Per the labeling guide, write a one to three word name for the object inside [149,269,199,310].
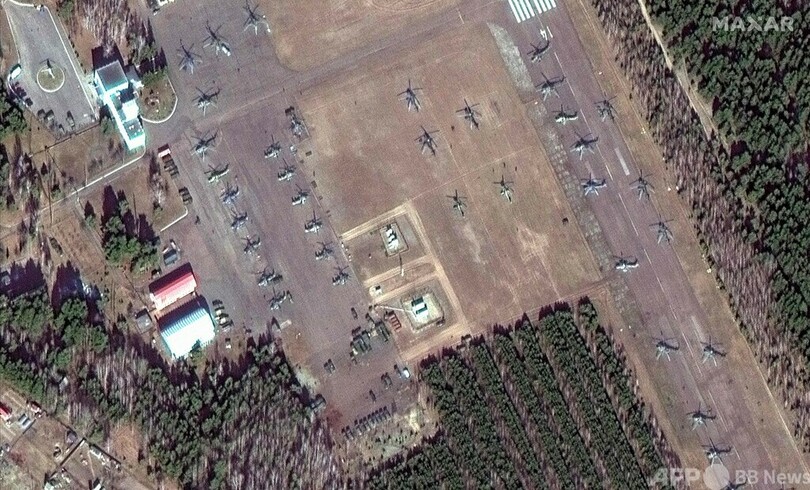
building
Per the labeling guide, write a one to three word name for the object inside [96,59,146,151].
building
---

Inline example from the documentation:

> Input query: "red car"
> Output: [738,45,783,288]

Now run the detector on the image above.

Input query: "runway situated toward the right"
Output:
[502,0,787,490]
